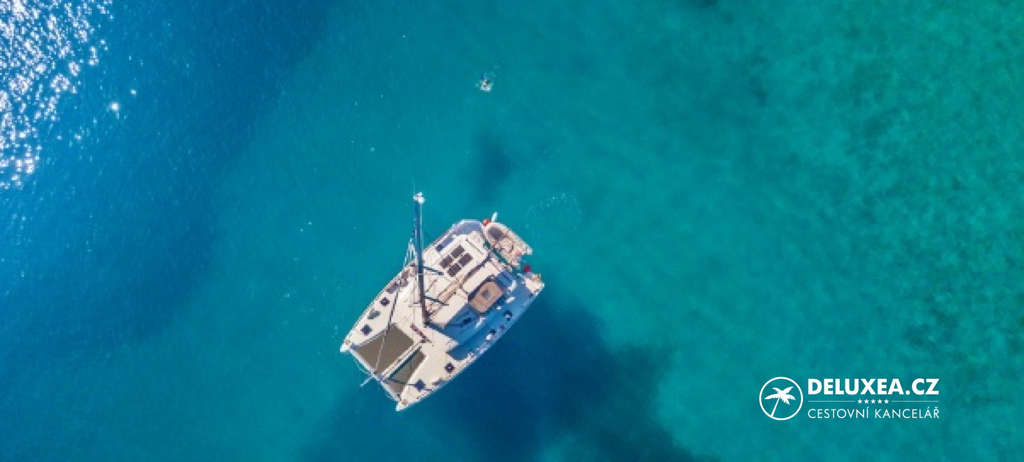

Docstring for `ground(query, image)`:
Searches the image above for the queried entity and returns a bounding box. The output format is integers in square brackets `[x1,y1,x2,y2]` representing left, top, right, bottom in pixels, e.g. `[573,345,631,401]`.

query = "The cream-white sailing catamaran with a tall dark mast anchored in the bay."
[340,192,542,416]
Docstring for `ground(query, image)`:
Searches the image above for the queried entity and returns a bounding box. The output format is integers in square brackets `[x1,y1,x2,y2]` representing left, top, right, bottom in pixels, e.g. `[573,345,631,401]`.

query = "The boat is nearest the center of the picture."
[483,224,531,270]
